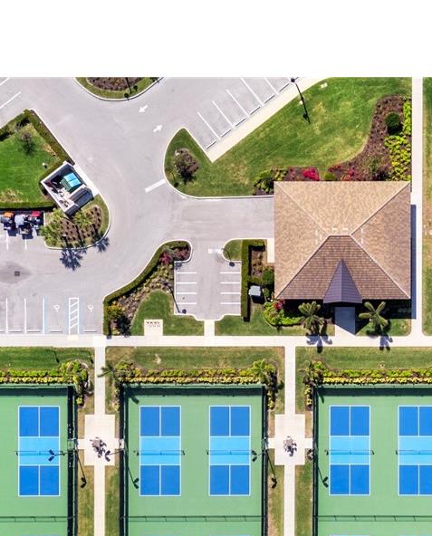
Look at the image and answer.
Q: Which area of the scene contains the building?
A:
right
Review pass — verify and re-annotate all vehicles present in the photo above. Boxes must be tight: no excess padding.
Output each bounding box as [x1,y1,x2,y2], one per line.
[28,211,42,230]
[14,214,28,231]
[0,213,15,231]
